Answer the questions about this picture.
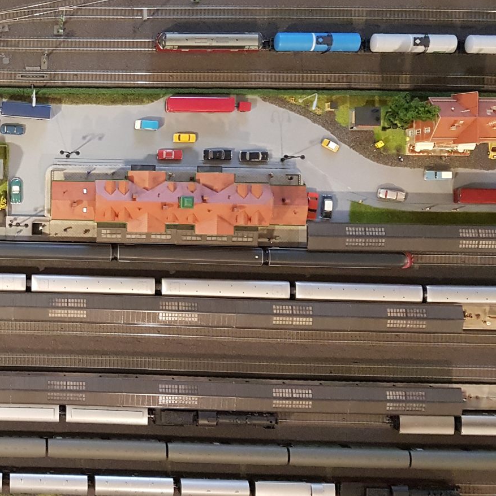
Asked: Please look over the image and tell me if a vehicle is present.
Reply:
Yes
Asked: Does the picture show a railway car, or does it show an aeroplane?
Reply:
railway car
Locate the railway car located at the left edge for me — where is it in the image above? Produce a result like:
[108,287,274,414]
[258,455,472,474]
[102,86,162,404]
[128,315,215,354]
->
[0,241,114,261]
